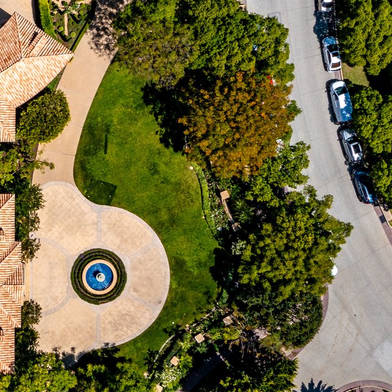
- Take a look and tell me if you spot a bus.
No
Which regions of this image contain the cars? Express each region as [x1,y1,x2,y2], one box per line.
[350,167,376,205]
[320,37,341,73]
[315,0,332,13]
[320,260,338,286]
[328,80,353,124]
[339,127,364,164]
